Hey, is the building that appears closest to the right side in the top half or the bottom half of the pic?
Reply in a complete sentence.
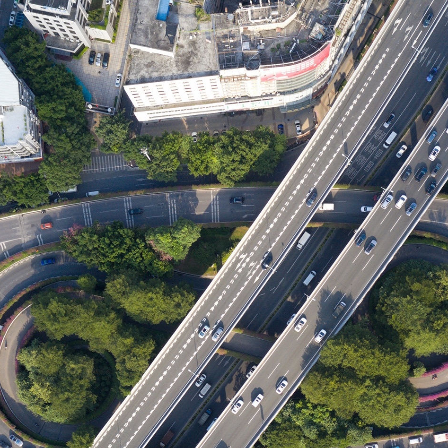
Seen from above, the building that appears closest to the right side lies in the top half of the view.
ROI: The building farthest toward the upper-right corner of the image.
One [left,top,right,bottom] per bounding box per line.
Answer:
[125,0,364,121]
